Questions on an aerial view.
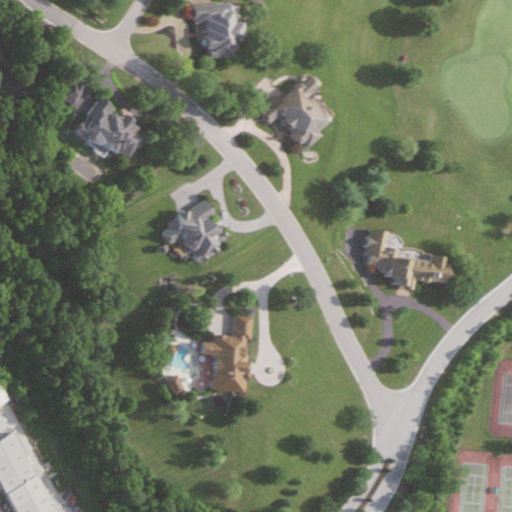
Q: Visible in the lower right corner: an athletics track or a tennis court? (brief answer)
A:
tennis court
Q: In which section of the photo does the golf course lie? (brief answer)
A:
top right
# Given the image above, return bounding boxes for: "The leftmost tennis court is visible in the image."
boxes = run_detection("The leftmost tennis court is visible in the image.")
[450,450,497,512]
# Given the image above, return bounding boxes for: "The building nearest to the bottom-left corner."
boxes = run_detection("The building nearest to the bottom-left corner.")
[0,432,64,512]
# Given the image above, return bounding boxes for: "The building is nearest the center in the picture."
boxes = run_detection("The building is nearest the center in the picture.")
[161,198,226,264]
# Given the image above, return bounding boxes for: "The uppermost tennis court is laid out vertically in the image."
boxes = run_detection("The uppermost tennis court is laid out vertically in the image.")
[490,358,512,438]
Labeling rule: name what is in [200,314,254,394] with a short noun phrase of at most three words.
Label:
house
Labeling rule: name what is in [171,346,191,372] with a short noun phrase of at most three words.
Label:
swimming pool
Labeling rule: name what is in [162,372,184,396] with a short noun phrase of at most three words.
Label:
building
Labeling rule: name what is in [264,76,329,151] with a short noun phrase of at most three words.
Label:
house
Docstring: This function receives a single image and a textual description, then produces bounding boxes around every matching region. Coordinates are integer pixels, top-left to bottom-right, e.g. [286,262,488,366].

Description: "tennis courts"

[490,358,512,438]
[450,450,497,512]
[493,455,512,512]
